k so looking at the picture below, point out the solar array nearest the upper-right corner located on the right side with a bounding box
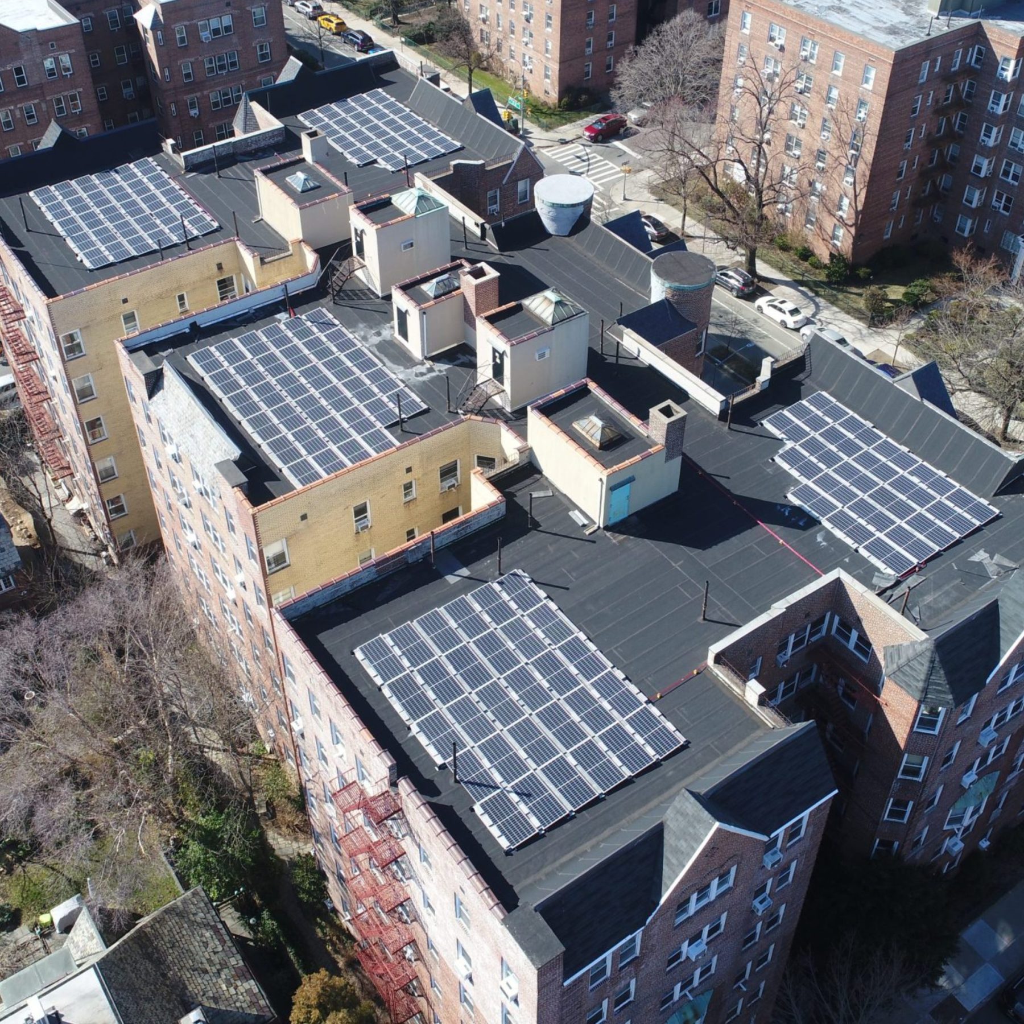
[758,394,1003,584]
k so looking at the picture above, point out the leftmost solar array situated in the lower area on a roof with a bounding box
[349,568,688,861]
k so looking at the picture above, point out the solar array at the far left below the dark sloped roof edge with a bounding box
[26,163,213,275]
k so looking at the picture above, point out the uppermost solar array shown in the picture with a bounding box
[297,94,462,174]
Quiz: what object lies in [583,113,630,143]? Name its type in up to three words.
car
